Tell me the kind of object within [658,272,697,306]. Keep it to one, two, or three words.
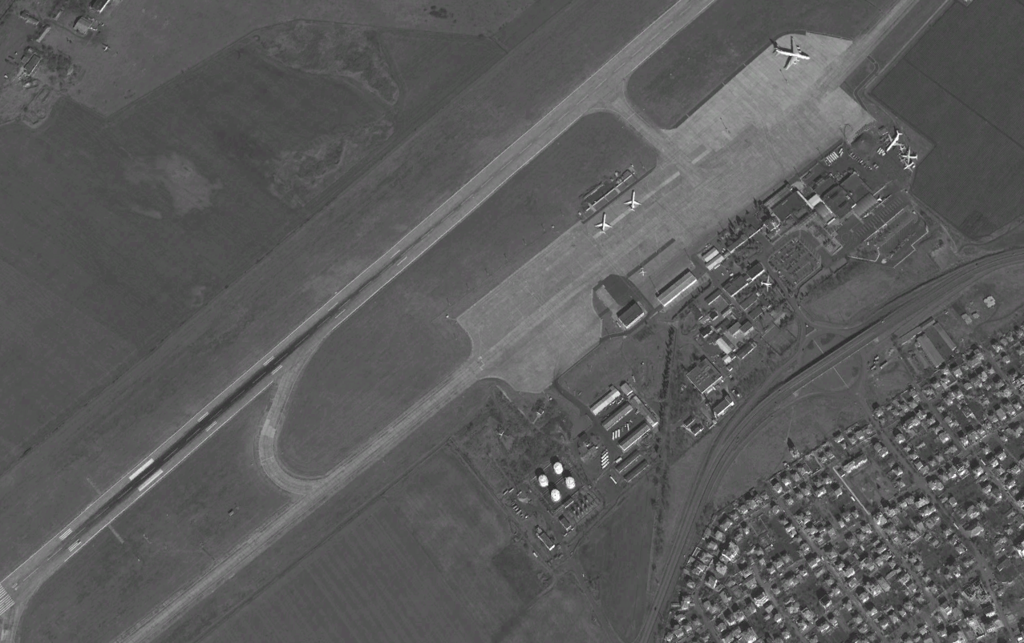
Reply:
hangar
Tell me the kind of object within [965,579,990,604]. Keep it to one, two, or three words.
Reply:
building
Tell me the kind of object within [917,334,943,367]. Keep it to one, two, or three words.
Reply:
shed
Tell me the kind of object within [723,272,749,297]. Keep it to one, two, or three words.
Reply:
building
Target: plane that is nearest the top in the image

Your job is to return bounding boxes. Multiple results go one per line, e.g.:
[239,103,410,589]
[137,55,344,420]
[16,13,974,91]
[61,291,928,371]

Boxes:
[773,38,810,67]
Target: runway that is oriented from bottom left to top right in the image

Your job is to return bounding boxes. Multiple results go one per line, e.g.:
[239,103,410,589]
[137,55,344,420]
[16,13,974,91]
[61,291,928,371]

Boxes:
[0,0,718,617]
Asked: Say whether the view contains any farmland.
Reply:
Yes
